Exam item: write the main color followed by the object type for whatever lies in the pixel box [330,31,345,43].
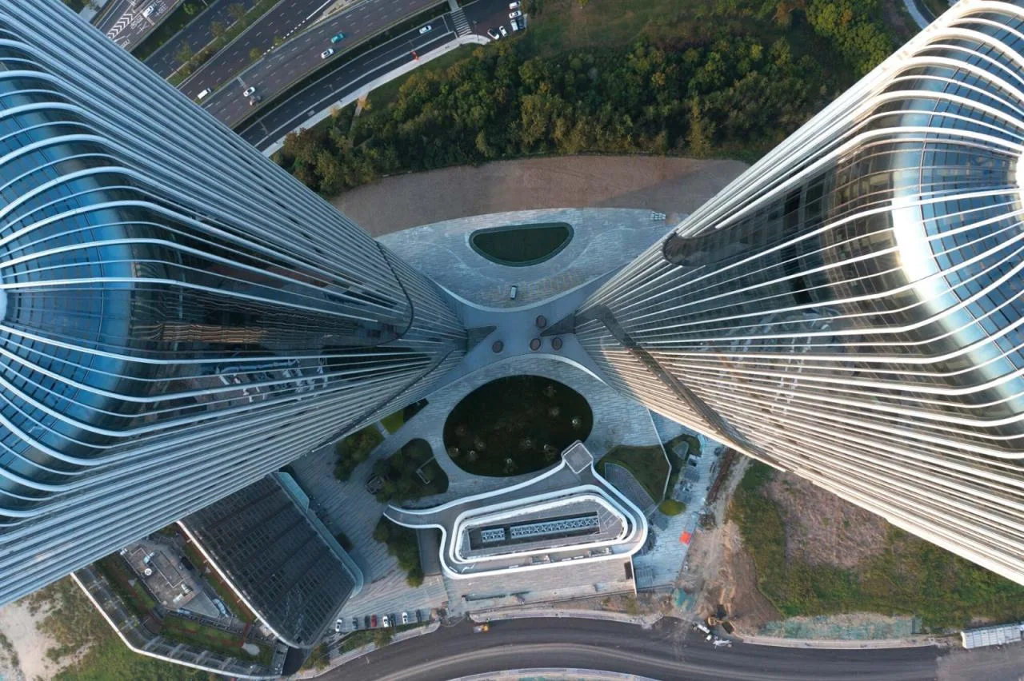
blue vehicle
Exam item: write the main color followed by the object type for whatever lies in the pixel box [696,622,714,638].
white vehicle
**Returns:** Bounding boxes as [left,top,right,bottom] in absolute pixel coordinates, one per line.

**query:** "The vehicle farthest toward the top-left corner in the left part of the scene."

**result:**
[139,1,155,18]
